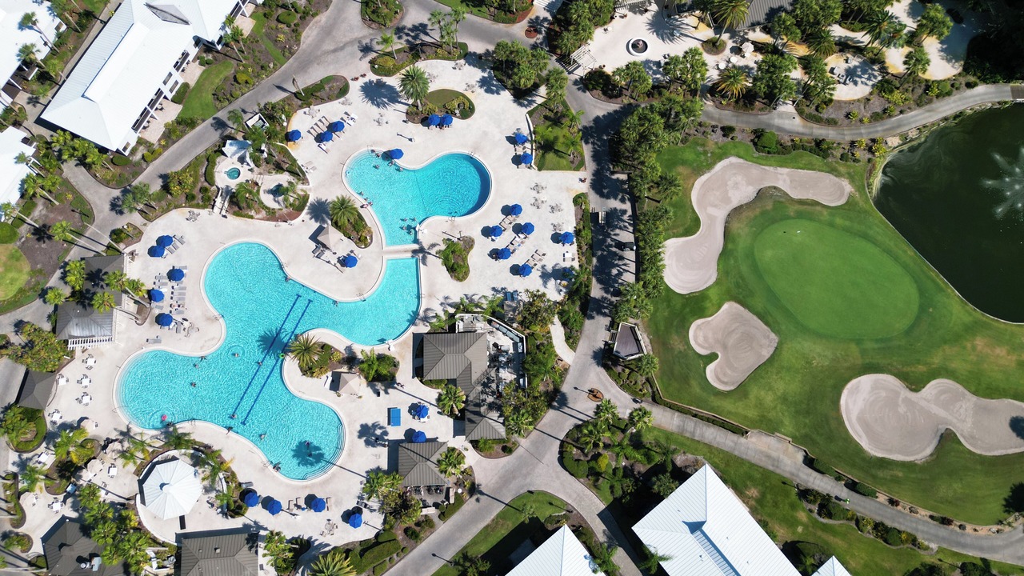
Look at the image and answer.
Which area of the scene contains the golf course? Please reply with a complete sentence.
Look in the right portion of the view to spot the golf course.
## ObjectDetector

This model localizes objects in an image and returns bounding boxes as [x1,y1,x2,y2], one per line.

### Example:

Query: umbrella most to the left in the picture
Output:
[19,490,39,507]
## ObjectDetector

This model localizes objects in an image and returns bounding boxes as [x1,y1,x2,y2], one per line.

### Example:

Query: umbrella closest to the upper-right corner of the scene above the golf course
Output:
[741,40,755,55]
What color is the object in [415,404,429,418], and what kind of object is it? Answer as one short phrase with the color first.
blue umbrella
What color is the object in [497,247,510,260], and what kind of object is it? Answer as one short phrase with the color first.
blue umbrella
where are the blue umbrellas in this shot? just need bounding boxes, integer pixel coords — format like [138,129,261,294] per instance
[412,429,427,443]
[150,245,164,258]
[157,313,172,326]
[344,255,358,268]
[519,263,533,277]
[428,114,441,126]
[520,153,532,165]
[390,148,403,161]
[267,499,282,515]
[331,120,344,133]
[521,222,535,236]
[348,512,363,528]
[311,497,326,512]
[158,234,172,248]
[169,268,182,281]
[415,404,429,418]
[489,225,503,238]
[320,131,333,144]
[560,232,574,245]
[510,204,522,216]
[150,289,164,302]
[497,247,510,260]
[288,129,301,142]
[244,491,259,507]
[441,114,454,127]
